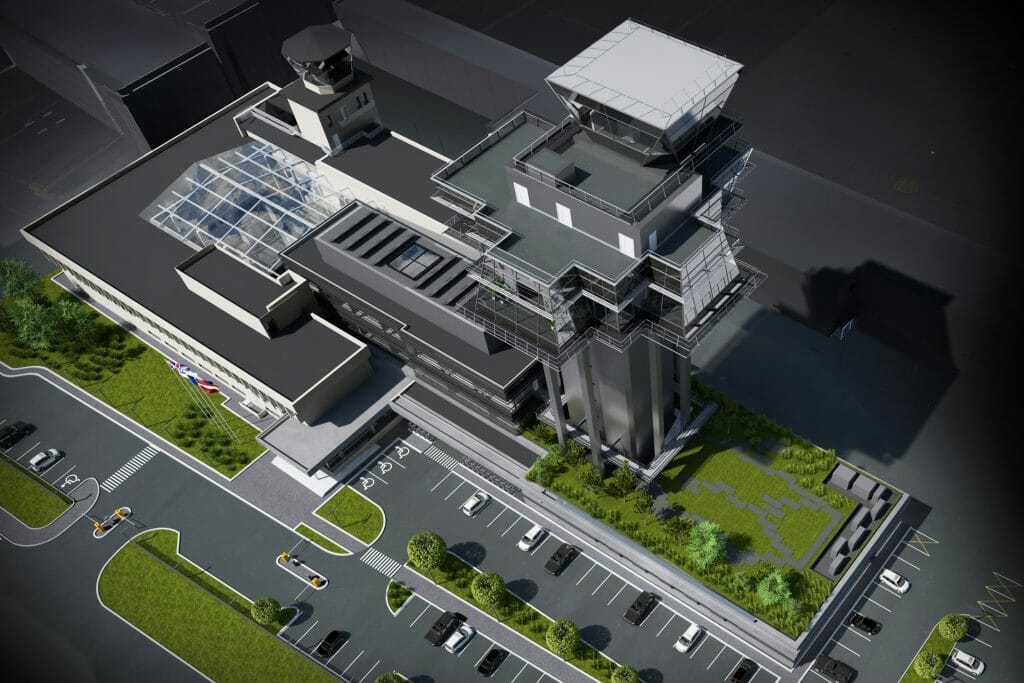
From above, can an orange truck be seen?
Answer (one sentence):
No, the scene contains no orange truck.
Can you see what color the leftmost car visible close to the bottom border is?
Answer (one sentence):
In this view, the leftmost car visible close to the bottom border is black.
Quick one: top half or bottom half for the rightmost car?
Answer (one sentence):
The bottom half of the photo is where the rightmost car is.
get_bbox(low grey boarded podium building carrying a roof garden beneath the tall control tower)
[387,373,906,668]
